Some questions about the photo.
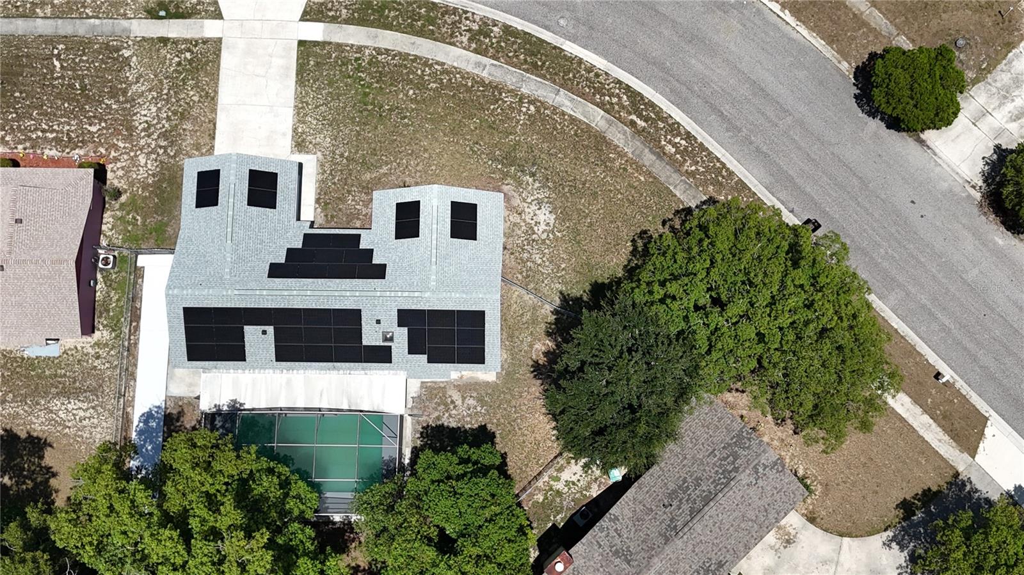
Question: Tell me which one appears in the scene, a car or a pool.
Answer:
pool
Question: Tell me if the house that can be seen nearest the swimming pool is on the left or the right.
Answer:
left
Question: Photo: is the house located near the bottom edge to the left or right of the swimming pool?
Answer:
on its right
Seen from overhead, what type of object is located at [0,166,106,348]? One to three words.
house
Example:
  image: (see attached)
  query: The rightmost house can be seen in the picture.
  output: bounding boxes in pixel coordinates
[543,400,810,575]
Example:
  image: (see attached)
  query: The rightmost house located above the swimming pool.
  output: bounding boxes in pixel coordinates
[162,155,503,380]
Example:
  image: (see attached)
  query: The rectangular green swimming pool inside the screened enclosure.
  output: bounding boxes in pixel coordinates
[250,412,383,493]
